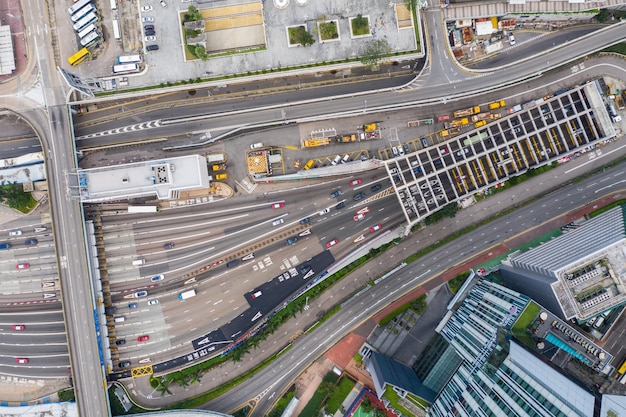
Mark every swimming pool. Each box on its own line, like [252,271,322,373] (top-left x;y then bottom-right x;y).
[546,332,592,366]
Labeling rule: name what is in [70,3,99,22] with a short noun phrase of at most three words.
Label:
vehicle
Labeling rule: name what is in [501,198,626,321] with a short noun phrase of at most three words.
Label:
building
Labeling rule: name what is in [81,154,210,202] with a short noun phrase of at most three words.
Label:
building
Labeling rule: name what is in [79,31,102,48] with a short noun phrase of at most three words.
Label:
vehicle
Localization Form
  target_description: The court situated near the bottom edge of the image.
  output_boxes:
[349,386,390,417]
